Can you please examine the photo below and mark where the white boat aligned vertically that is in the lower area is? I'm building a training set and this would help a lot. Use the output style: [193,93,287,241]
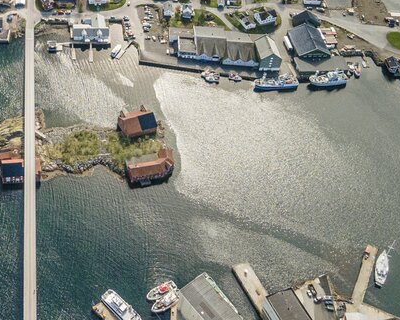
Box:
[373,237,400,291]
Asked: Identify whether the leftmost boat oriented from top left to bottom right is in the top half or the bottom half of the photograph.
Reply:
bottom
